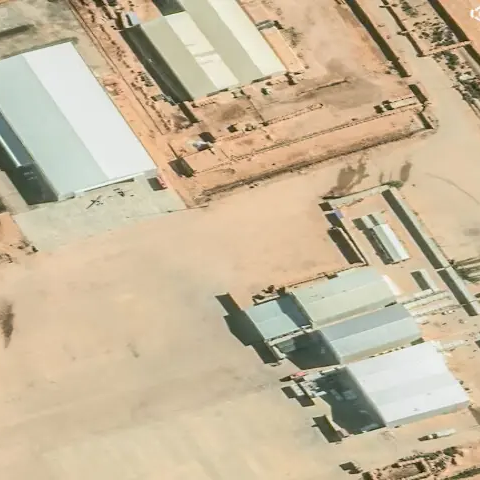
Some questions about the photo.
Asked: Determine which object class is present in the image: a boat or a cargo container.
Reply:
cargo container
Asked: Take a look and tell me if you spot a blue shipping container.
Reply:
No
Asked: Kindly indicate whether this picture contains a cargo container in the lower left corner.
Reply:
No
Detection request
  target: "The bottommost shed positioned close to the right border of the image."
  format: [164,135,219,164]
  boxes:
[346,341,471,432]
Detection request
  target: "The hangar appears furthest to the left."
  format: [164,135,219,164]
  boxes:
[0,41,157,200]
